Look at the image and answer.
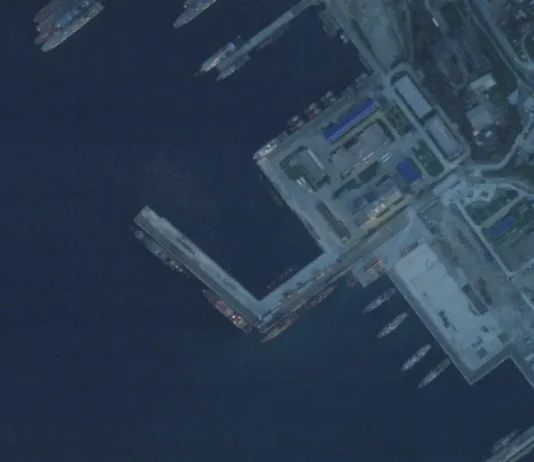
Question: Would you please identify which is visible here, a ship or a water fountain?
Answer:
ship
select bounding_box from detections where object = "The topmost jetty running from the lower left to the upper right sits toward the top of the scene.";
[216,0,319,72]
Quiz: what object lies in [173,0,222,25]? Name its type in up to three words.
ship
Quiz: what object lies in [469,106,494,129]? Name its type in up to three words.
building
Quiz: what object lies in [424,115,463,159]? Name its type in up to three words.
building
